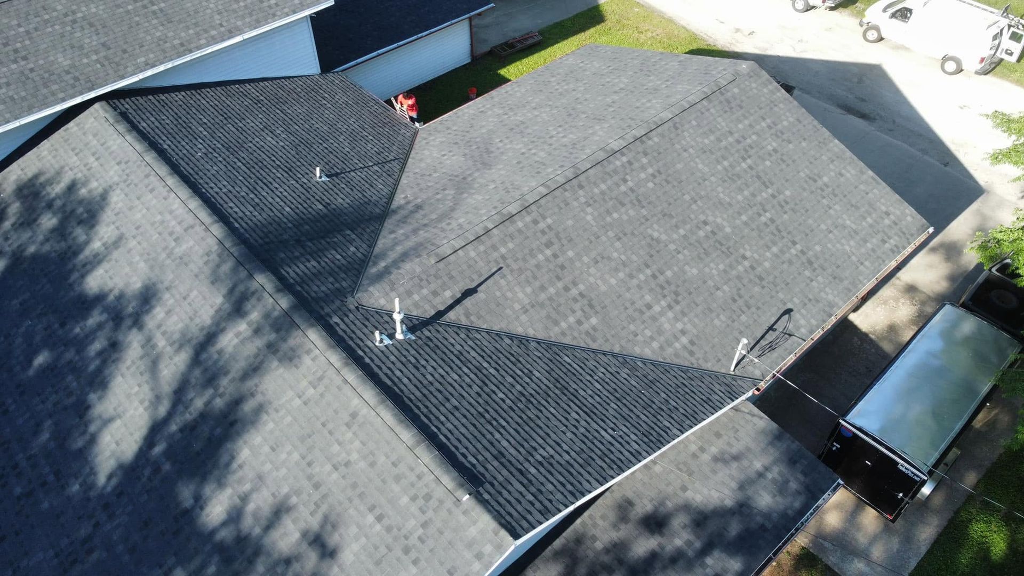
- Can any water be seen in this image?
No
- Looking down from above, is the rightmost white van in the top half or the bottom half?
top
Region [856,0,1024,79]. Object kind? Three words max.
van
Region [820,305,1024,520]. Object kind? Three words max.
trailer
